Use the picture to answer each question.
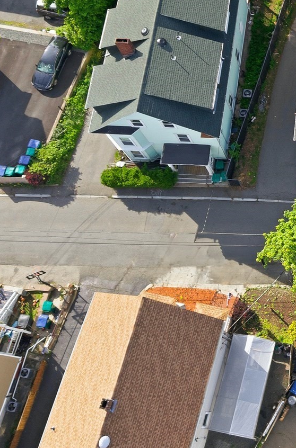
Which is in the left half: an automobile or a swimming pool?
automobile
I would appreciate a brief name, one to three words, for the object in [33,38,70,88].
car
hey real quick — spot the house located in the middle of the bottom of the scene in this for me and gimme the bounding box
[37,292,236,448]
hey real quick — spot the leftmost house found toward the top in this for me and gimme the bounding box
[84,0,265,191]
